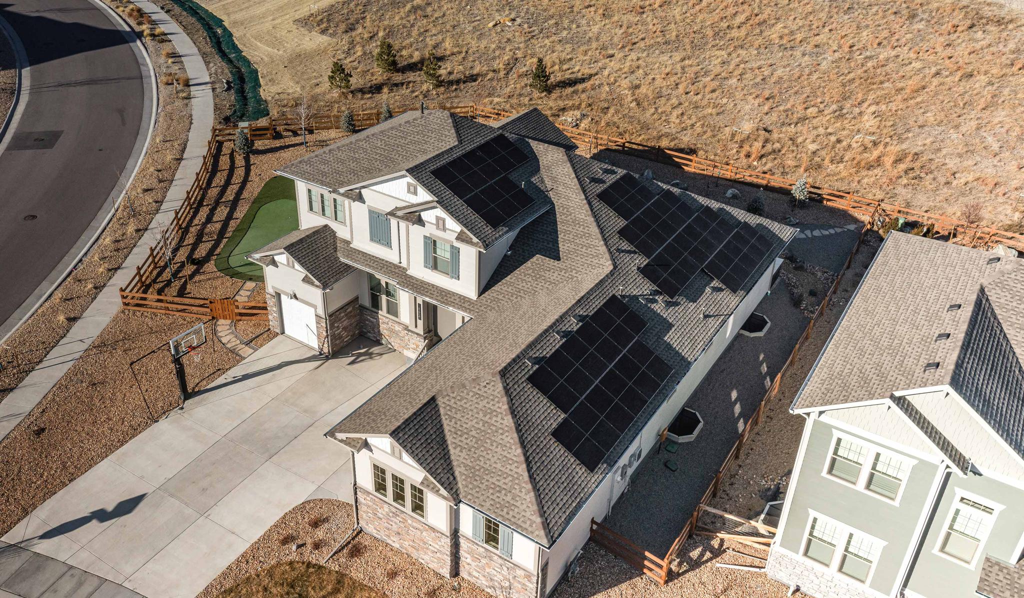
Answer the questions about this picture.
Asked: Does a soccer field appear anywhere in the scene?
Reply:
No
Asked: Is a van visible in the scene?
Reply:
No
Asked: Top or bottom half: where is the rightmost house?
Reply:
bottom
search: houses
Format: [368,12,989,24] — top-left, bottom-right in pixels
[243,94,799,598]
[700,230,1024,598]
